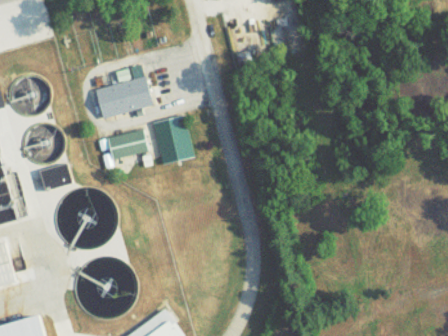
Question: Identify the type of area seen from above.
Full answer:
The area seen from above is an industrial area.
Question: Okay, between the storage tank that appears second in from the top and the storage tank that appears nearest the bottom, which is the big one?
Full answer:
Of the two, the storage tank that appears nearest the bottom is bigger, while the storage tank that appears second in from the top is smaller.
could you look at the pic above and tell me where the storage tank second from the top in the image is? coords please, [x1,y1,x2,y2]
[19,122,65,164]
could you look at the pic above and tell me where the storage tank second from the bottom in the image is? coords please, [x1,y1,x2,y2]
[55,186,118,252]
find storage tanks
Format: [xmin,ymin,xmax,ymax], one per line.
[72,256,137,318]
[4,72,51,116]
[55,186,118,252]
[19,122,65,164]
